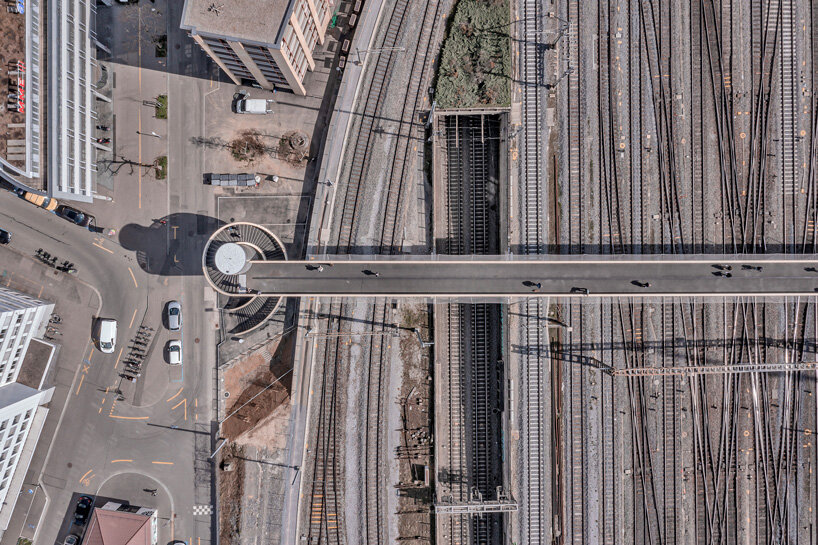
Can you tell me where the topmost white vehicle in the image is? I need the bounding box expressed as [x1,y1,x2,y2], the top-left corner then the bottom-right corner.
[237,93,276,110]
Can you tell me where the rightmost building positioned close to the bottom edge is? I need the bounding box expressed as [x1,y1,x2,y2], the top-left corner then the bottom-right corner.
[89,502,158,545]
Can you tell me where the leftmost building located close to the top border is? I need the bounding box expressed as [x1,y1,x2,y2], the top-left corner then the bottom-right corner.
[0,0,113,204]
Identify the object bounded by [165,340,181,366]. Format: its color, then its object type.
white car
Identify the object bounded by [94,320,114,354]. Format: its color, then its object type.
white vehicle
